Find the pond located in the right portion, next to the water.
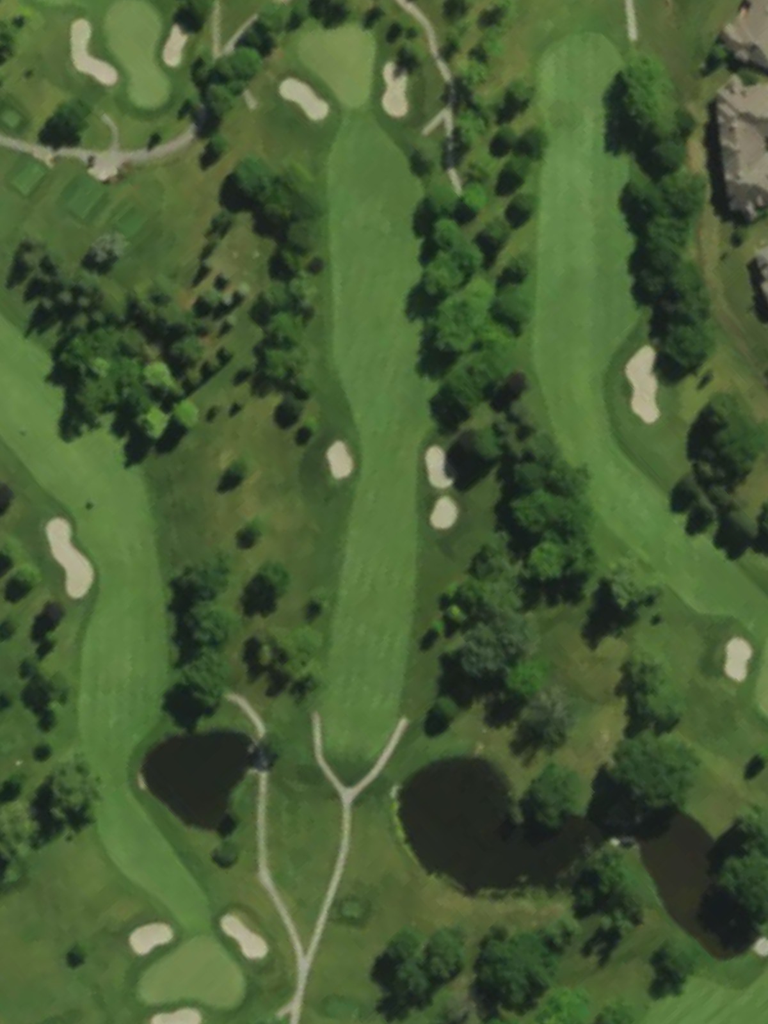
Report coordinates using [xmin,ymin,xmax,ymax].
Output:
[399,755,761,959]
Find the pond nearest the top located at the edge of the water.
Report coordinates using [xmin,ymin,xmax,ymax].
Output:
[142,729,279,831]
